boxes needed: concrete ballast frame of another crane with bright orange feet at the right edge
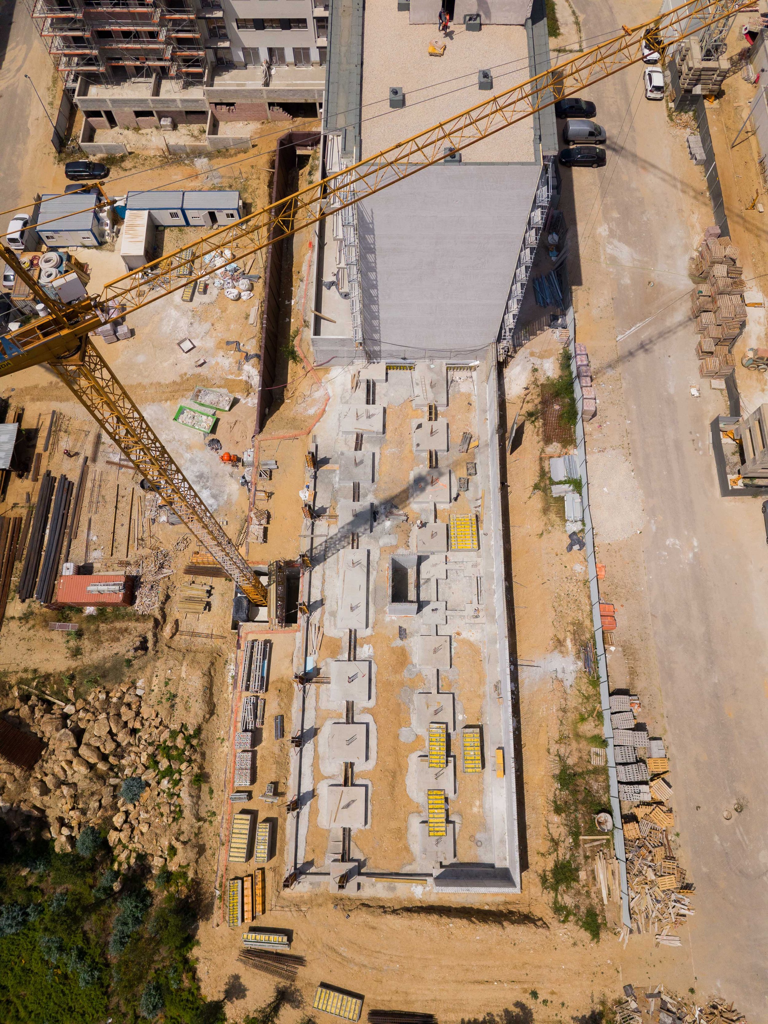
[720,405,768,493]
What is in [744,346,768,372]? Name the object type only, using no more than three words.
truck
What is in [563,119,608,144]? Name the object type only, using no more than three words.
car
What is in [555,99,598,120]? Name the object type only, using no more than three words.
car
